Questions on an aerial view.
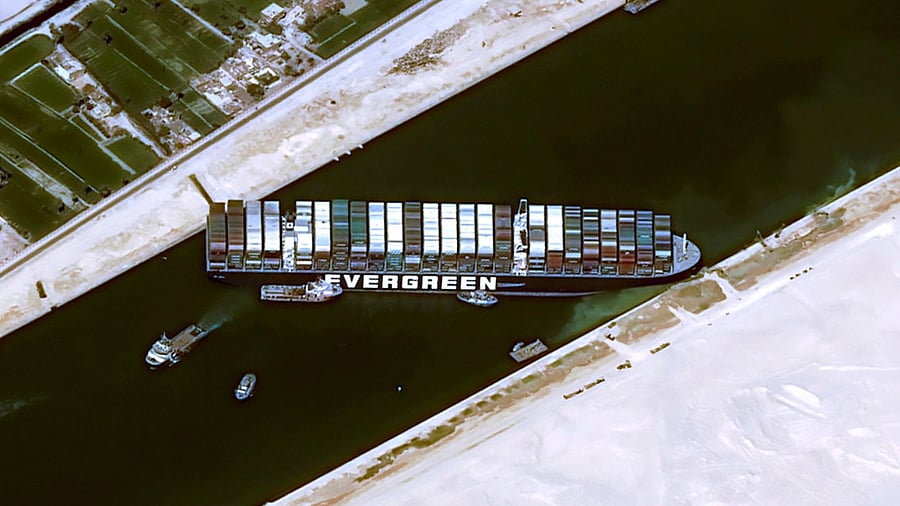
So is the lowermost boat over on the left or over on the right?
left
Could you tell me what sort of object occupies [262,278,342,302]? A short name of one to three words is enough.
ship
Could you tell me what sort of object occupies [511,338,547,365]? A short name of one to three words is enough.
ship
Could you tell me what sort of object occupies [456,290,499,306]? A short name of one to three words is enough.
boat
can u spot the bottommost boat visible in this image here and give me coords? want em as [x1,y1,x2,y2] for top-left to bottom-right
[236,372,258,400]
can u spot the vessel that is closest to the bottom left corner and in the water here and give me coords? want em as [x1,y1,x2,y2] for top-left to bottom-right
[147,323,206,365]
